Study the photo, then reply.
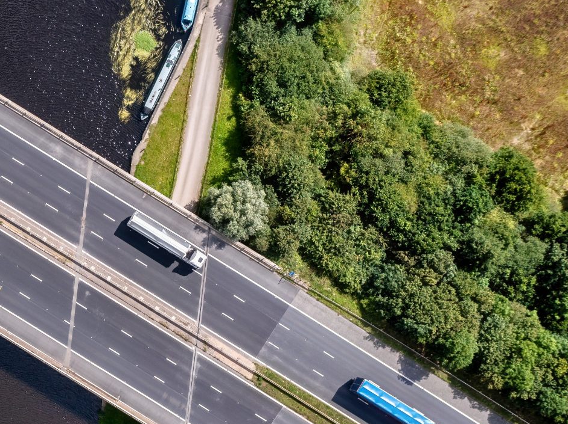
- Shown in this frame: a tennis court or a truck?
truck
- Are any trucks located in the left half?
Yes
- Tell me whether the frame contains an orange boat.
No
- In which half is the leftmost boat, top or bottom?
top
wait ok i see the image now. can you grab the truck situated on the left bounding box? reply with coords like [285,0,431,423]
[129,211,208,270]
